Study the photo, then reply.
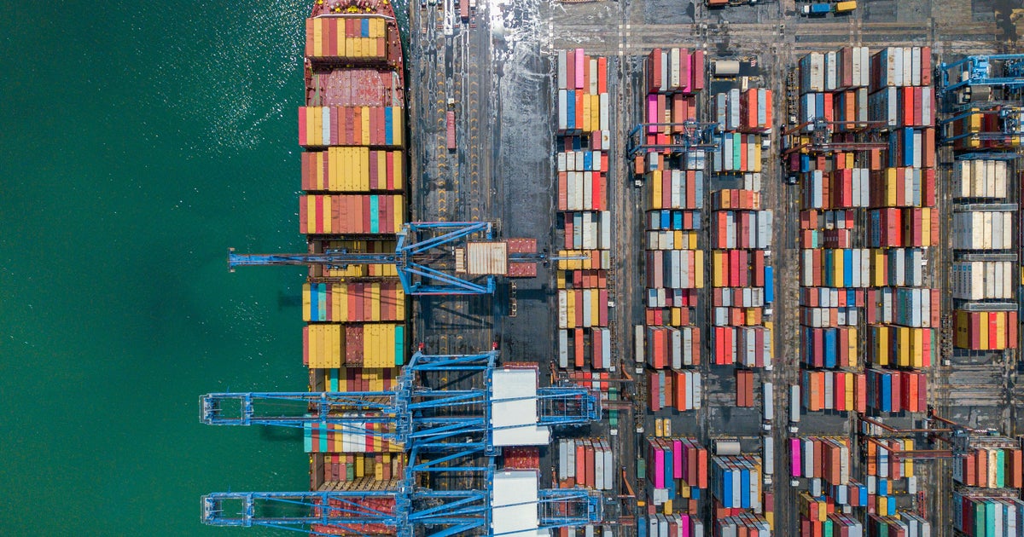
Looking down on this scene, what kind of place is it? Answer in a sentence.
The picture captures a port.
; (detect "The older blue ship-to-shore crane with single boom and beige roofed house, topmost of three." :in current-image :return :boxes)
[228,212,589,299]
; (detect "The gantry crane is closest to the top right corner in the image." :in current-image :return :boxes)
[941,54,1024,101]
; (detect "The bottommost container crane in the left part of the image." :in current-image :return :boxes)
[202,422,603,537]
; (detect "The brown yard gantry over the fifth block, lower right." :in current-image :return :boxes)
[859,408,973,457]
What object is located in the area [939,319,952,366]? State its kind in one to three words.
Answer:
vehicle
